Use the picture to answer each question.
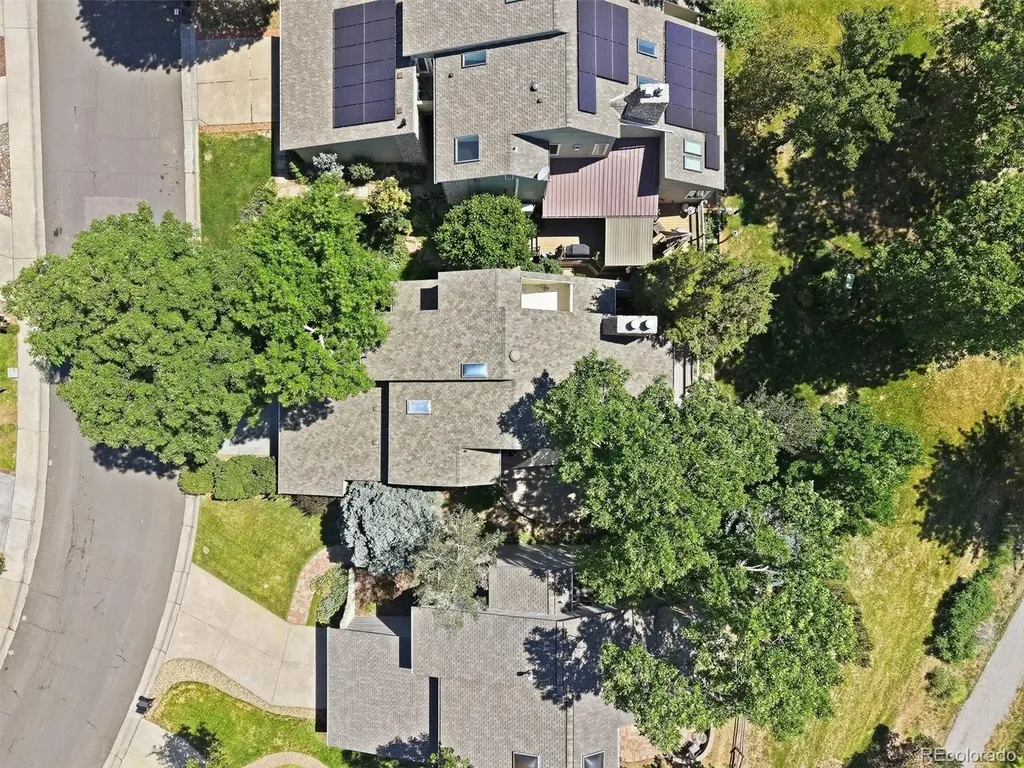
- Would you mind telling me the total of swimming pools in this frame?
none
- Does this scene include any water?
No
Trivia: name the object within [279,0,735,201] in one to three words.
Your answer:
house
